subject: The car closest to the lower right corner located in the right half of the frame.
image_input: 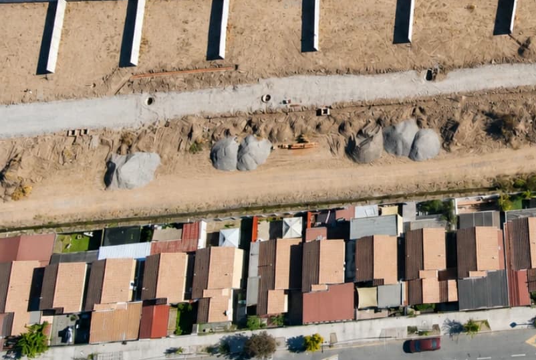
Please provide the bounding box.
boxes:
[409,337,439,353]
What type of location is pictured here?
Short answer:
residential area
